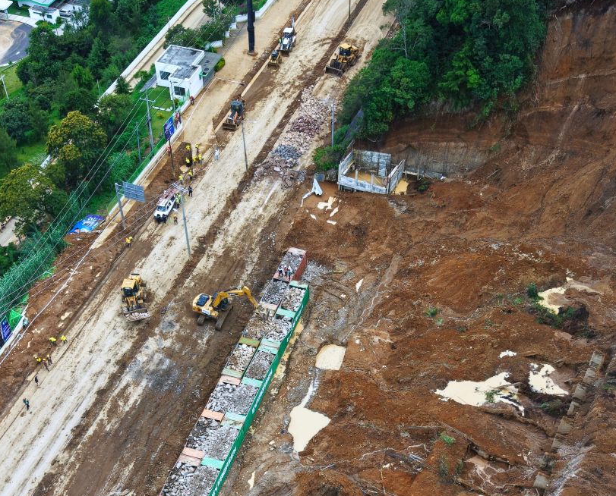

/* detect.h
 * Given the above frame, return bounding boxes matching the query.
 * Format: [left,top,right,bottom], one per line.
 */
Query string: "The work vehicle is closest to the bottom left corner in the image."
[119,272,147,323]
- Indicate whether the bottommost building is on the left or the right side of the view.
left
